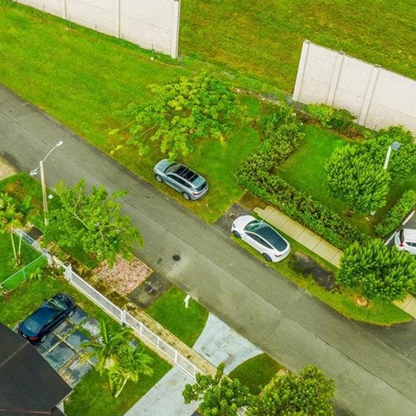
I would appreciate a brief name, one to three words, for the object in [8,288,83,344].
car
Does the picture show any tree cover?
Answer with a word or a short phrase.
Yes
